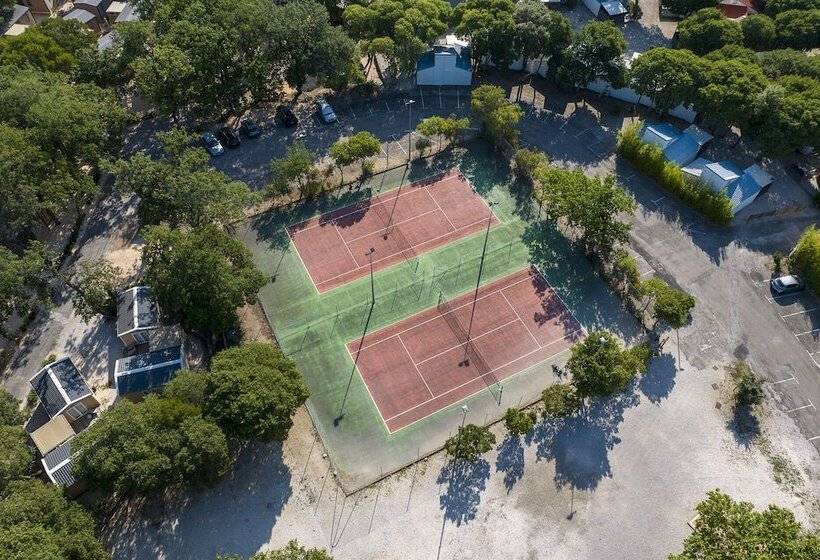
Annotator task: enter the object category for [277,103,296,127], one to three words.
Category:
car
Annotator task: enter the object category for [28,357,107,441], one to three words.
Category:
building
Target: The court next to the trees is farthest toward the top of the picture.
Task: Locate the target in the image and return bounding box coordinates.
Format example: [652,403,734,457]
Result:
[230,138,558,340]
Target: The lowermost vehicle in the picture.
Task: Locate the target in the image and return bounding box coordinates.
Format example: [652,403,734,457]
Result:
[769,272,806,296]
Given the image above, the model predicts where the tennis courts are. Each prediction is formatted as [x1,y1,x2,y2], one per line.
[279,226,656,494]
[230,138,558,340]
